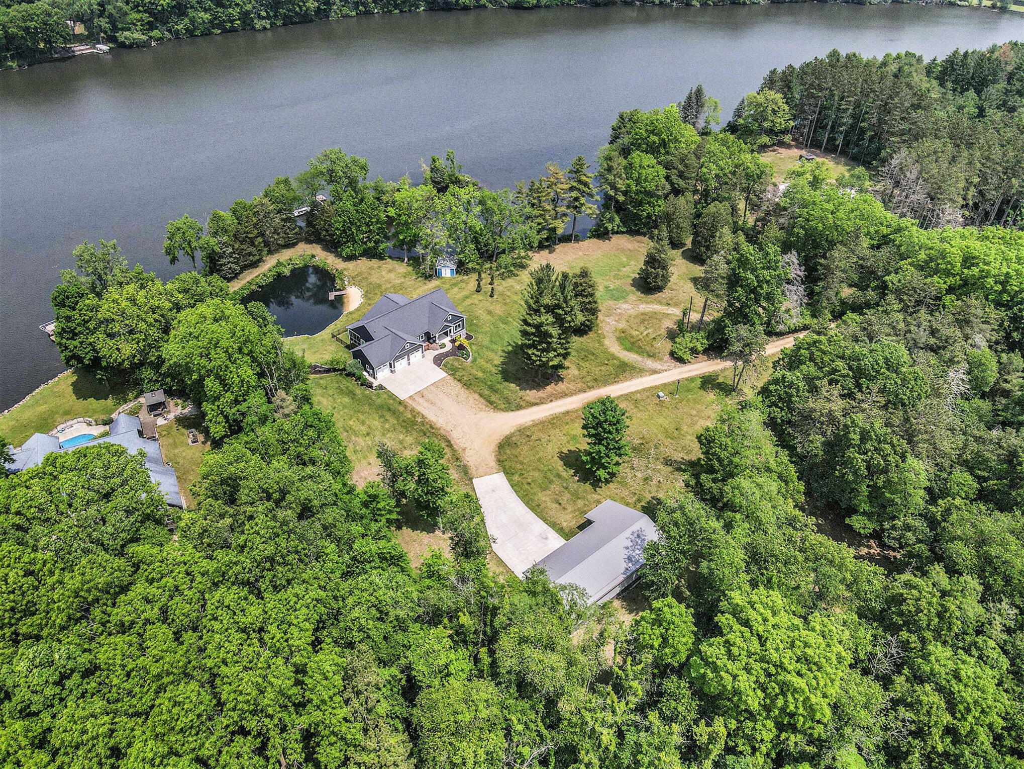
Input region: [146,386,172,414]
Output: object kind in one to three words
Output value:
building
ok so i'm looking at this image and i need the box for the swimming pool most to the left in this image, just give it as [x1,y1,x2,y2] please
[60,433,96,446]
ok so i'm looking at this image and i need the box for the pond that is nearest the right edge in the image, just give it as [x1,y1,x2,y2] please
[249,267,341,337]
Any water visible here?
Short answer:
Yes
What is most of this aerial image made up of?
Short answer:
trees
